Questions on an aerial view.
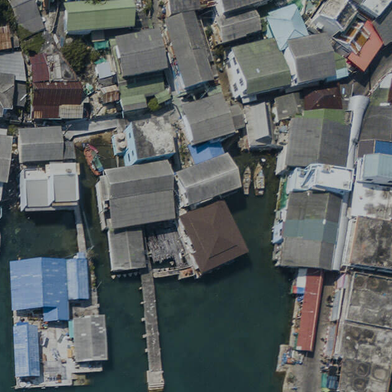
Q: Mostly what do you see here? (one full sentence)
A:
The largest share of the image is taken up by buildings.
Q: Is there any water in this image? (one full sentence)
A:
Yes, some water is visible.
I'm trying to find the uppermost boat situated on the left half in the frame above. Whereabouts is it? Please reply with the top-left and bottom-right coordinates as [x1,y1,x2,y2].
[83,141,102,179]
